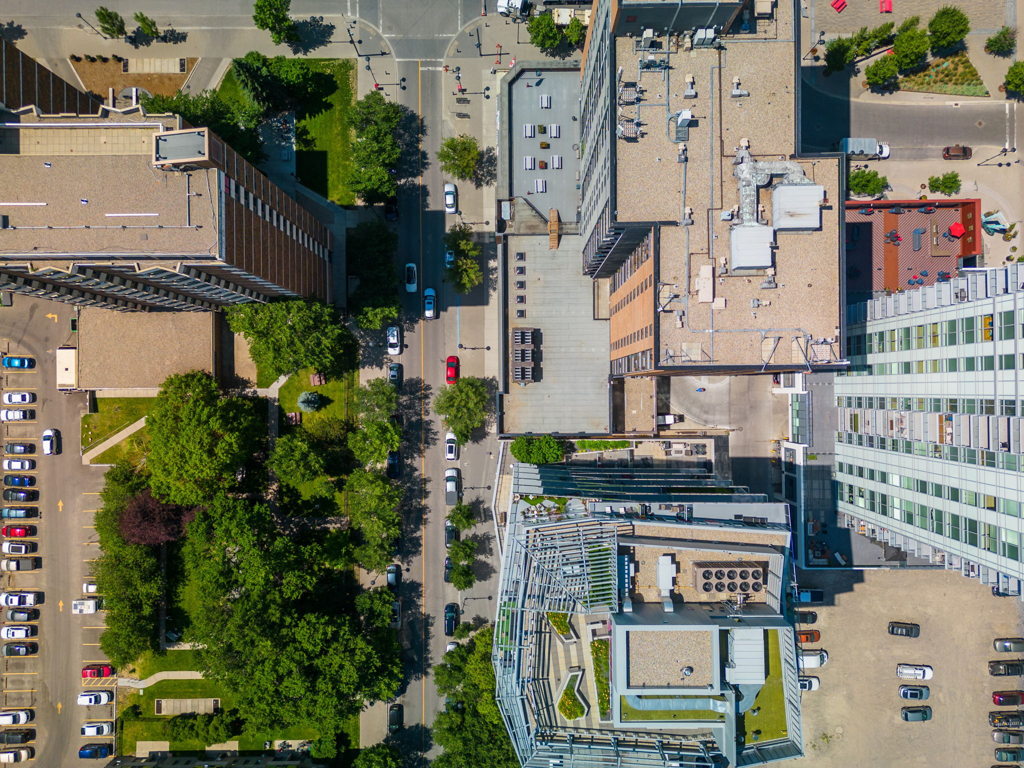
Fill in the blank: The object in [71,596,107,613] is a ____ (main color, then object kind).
white camper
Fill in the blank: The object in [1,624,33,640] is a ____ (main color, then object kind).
white car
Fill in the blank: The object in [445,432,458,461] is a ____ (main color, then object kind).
white vehicle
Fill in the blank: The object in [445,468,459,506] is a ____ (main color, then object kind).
gray vehicle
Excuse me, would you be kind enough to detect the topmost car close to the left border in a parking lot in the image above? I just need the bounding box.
[2,355,32,369]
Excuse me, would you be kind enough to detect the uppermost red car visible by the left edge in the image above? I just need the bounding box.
[2,524,33,538]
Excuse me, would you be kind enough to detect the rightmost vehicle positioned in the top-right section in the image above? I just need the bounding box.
[941,145,972,160]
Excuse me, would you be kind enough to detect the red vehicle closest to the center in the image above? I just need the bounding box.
[446,355,459,385]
